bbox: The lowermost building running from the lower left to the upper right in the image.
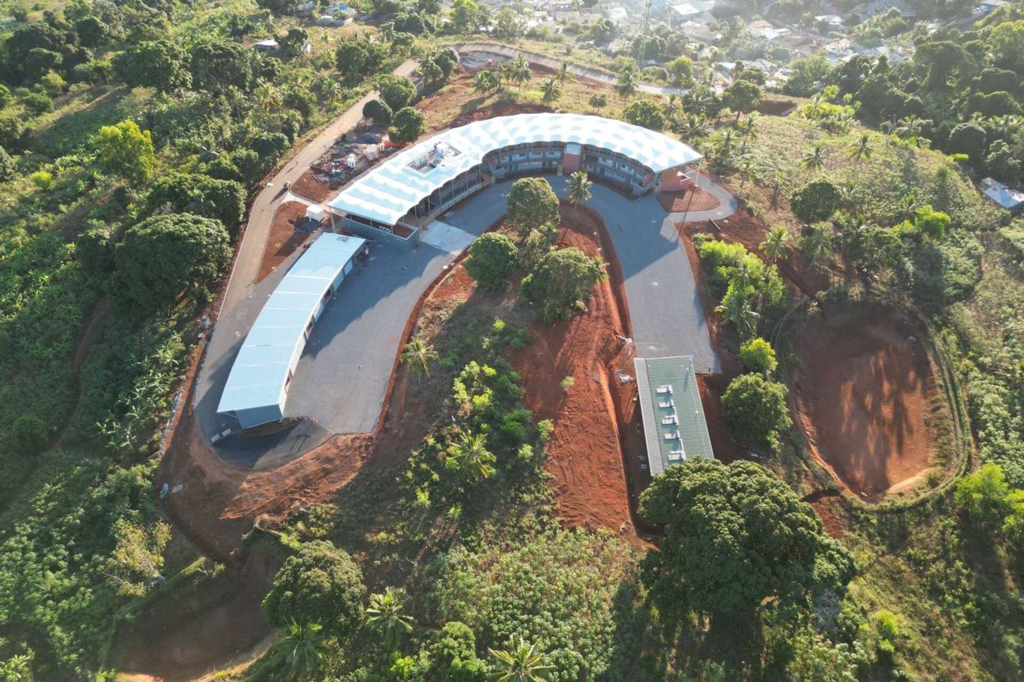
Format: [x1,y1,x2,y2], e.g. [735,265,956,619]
[218,233,368,430]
